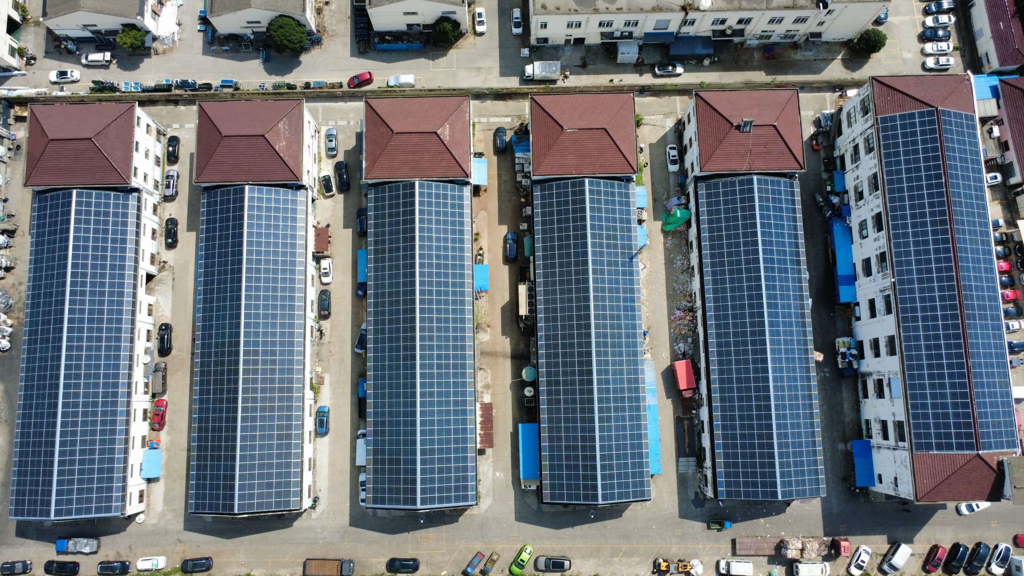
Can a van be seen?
Yes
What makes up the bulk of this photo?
buildings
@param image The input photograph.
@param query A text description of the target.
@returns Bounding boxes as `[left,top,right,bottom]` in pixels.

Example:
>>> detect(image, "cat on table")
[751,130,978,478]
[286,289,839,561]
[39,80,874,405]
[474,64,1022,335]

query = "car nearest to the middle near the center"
[505,231,519,262]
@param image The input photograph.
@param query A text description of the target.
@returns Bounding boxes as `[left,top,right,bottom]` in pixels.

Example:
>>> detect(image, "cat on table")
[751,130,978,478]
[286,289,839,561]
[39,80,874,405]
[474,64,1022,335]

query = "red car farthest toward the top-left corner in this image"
[348,70,375,86]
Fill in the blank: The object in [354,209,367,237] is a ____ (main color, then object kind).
black vehicle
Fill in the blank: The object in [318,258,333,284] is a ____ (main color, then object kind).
white car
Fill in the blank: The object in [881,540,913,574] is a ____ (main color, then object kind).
white van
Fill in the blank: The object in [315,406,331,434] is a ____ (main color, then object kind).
blue car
